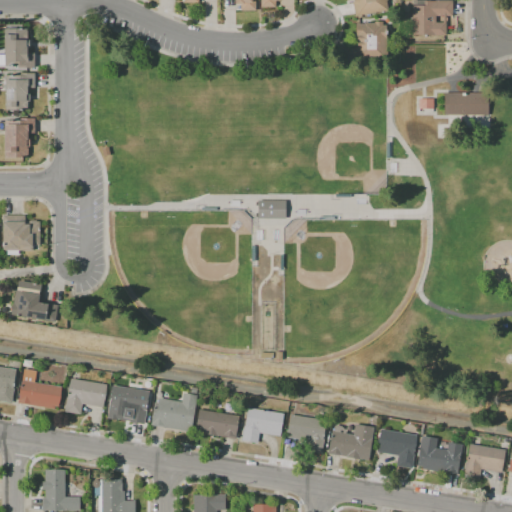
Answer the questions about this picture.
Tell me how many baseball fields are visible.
3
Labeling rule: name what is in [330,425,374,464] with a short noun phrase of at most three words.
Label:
house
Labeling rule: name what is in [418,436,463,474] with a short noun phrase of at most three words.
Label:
house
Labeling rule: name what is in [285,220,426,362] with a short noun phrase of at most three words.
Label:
baseball field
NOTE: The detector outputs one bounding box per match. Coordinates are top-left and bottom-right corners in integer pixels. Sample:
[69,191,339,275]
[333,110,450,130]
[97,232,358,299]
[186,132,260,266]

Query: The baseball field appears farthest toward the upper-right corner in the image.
[272,76,387,194]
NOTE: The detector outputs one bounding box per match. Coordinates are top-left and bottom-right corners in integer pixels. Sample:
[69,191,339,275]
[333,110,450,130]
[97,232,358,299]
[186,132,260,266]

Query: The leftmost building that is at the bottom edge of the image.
[44,470,80,512]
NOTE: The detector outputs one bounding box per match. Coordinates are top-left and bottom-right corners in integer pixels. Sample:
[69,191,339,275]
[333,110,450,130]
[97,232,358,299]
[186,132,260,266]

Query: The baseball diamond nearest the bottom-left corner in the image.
[110,211,252,353]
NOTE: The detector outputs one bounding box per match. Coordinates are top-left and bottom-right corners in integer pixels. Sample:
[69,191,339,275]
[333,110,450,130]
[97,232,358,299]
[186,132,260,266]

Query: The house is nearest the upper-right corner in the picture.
[410,0,454,34]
